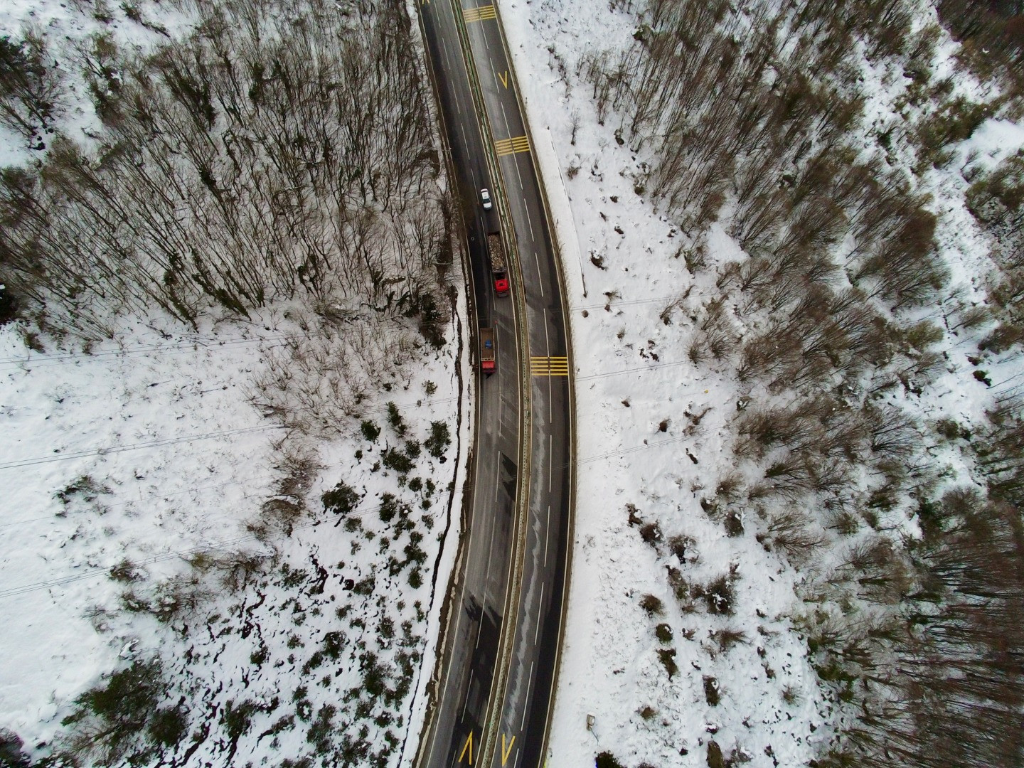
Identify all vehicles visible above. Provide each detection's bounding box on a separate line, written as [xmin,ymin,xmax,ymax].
[488,232,510,299]
[481,190,492,211]
[480,328,496,374]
